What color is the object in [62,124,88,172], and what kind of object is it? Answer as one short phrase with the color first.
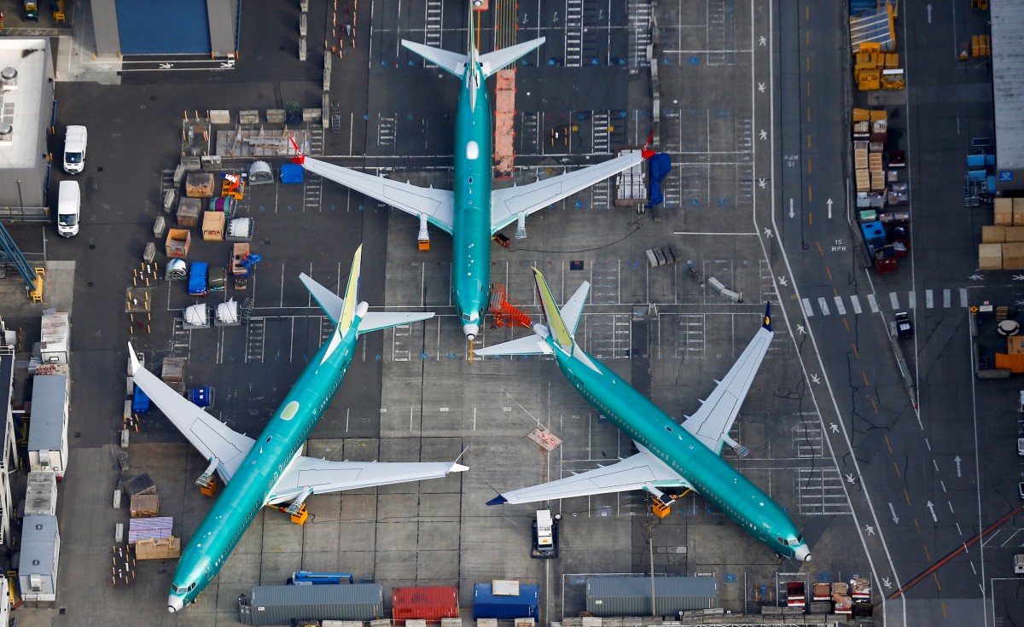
white vehicle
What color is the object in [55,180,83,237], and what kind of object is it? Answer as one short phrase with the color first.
white van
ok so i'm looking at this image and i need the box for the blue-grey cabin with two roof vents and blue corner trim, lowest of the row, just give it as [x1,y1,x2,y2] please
[19,516,63,599]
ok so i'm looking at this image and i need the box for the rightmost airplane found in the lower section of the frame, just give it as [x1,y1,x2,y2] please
[468,265,813,561]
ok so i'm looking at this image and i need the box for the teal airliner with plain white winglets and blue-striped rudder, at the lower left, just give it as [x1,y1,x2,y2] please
[126,248,468,611]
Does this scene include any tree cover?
No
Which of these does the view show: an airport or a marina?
airport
